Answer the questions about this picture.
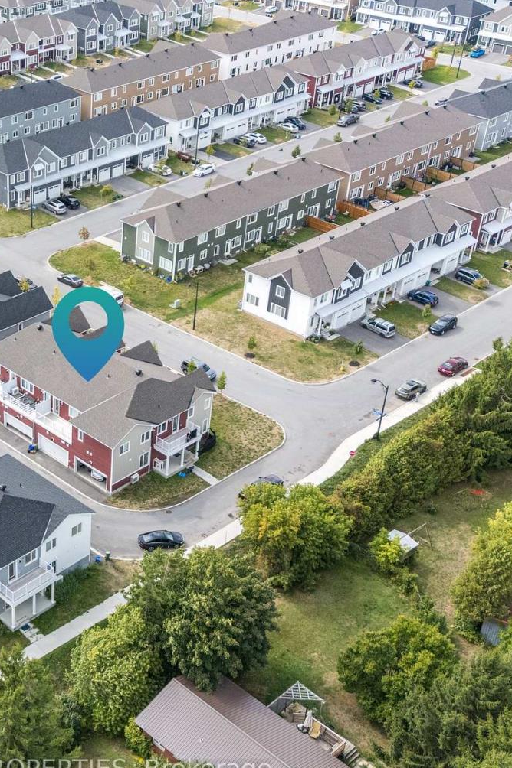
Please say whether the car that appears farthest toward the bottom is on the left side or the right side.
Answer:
left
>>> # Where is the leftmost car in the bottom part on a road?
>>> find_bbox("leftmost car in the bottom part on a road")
[140,529,179,556]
